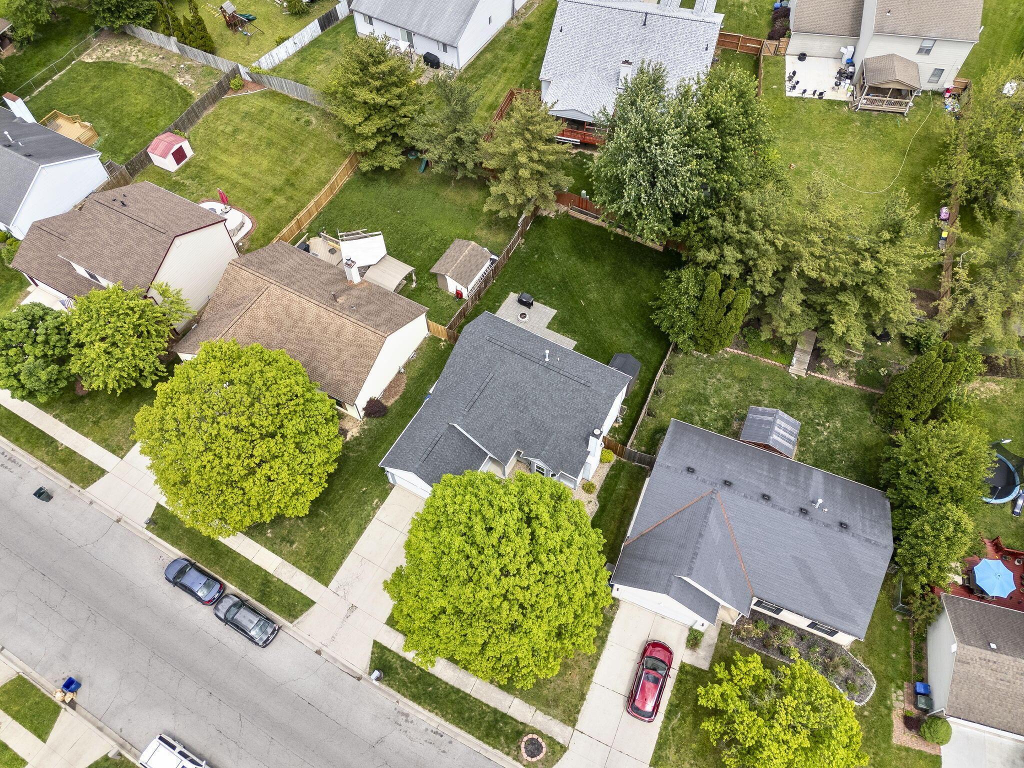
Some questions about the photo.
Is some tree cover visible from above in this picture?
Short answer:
Yes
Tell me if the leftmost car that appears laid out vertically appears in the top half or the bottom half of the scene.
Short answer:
bottom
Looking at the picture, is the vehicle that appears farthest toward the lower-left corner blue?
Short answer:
No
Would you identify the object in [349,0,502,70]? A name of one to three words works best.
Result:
house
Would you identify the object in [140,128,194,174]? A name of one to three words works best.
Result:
shed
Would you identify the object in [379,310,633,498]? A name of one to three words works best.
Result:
house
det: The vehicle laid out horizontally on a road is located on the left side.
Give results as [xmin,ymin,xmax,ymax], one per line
[138,735,210,768]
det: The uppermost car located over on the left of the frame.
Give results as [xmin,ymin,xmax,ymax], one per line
[162,554,228,612]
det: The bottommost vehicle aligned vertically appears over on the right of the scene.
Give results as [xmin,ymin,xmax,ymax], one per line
[626,640,672,726]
